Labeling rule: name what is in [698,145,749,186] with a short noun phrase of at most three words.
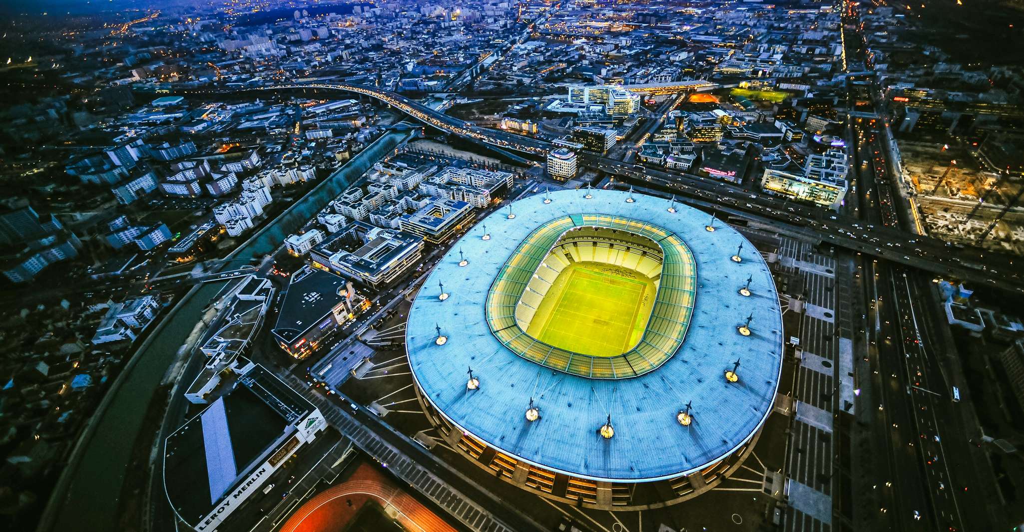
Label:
building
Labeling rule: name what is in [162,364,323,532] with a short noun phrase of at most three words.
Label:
warehouse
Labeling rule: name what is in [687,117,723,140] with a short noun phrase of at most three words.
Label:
building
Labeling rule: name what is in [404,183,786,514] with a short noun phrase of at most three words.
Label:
stadium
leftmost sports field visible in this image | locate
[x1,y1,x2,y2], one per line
[538,271,644,359]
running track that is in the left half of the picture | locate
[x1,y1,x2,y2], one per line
[273,474,461,532]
